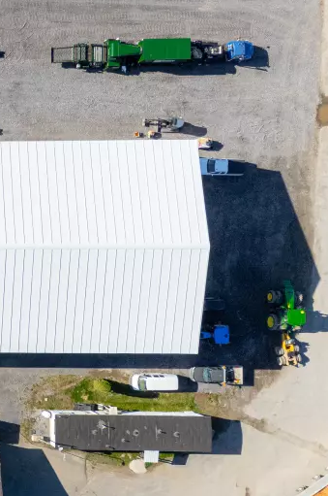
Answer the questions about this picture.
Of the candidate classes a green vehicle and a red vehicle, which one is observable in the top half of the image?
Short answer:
green vehicle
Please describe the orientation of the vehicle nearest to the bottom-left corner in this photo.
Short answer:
from side to side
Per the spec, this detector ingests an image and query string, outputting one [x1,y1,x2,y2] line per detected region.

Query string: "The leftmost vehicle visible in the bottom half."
[128,372,182,394]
